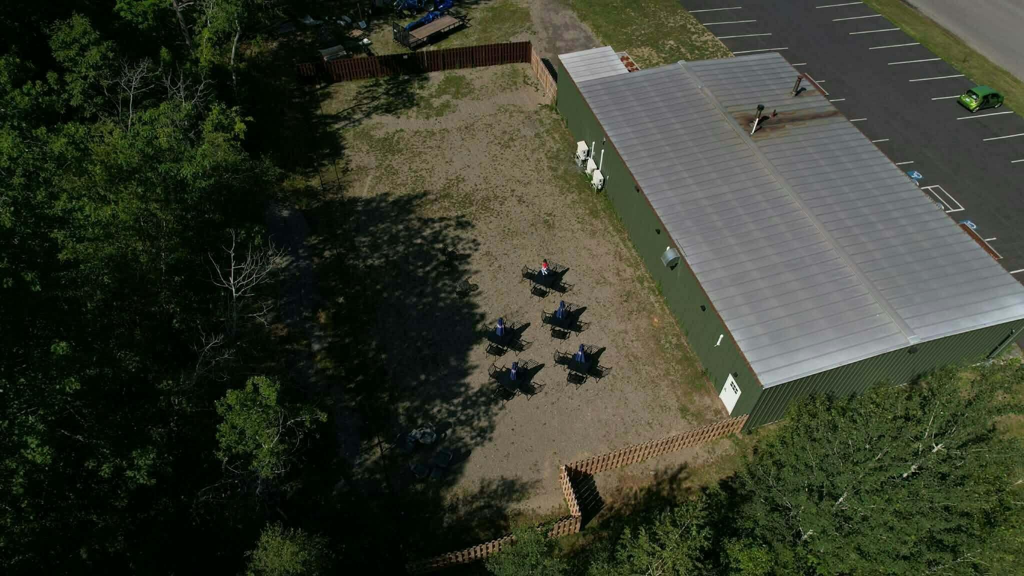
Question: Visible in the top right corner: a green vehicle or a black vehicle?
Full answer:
The feature located in the top right corner is a green vehicle.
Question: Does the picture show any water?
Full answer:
No, there's no water in this view.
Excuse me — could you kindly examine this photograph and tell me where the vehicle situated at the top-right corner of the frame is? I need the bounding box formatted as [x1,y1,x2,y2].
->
[957,80,1007,111]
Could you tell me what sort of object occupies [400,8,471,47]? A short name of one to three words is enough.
trailer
